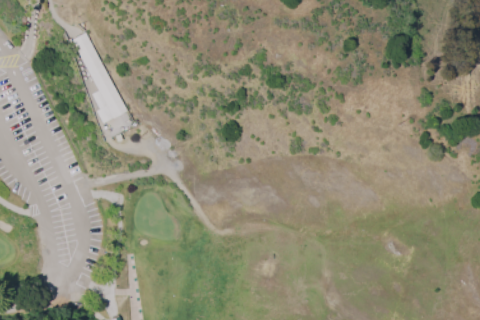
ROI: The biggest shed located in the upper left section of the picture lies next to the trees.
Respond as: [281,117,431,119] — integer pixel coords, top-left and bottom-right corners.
[74,34,128,123]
